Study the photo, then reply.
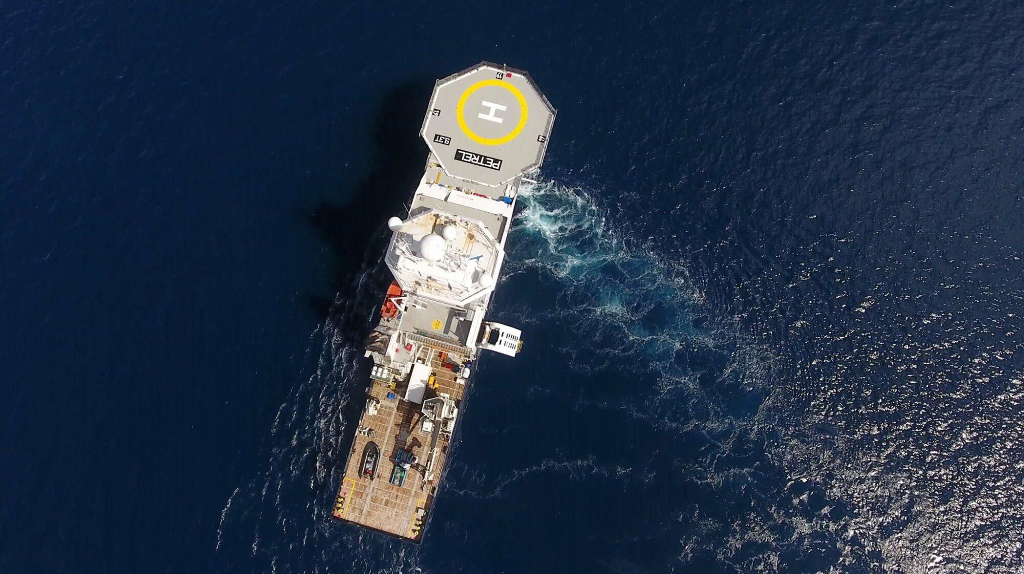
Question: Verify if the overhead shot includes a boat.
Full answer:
Yes, there's a boat here.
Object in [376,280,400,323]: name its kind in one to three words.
boat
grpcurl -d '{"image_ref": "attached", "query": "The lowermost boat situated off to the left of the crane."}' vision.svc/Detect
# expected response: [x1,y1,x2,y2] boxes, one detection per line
[357,442,379,483]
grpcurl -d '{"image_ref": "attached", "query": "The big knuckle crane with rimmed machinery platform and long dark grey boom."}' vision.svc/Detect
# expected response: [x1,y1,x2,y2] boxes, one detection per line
[418,396,445,472]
